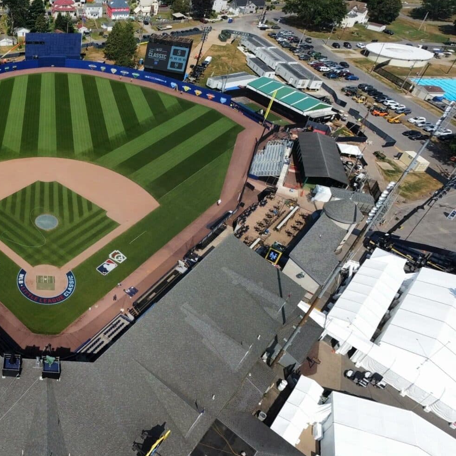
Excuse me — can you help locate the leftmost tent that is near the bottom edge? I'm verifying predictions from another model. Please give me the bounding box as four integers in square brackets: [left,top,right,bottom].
[264,375,324,451]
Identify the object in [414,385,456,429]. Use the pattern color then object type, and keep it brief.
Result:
white tent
